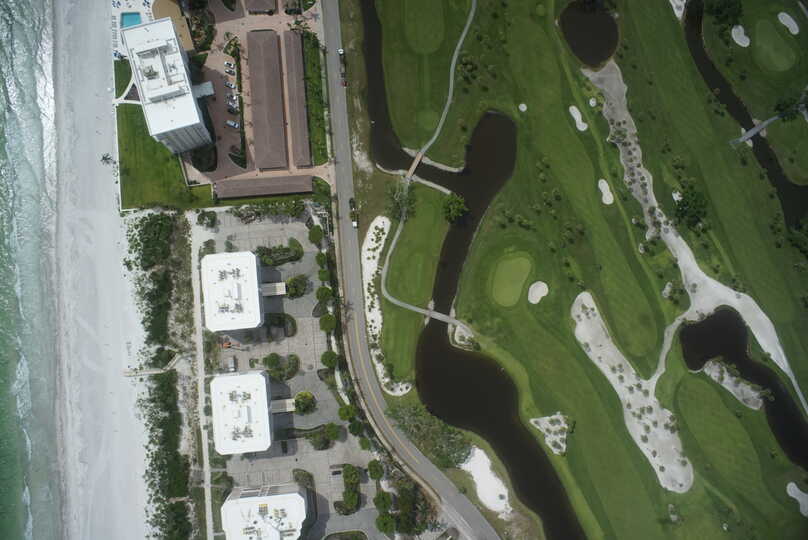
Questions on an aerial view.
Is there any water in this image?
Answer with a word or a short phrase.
Yes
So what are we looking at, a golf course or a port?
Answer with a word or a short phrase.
golf course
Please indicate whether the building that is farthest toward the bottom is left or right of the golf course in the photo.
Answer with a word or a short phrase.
to the left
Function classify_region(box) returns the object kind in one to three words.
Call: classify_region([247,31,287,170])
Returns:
building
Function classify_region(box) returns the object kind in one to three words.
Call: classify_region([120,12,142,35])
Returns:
swimming pool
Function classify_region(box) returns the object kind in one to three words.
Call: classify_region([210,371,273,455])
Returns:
building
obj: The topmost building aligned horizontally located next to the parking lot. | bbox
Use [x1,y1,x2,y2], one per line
[215,176,312,198]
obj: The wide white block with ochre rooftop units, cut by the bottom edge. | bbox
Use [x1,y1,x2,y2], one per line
[221,484,306,540]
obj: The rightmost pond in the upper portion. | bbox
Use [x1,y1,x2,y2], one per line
[685,0,808,239]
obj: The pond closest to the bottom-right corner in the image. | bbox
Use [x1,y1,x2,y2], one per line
[681,306,808,473]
